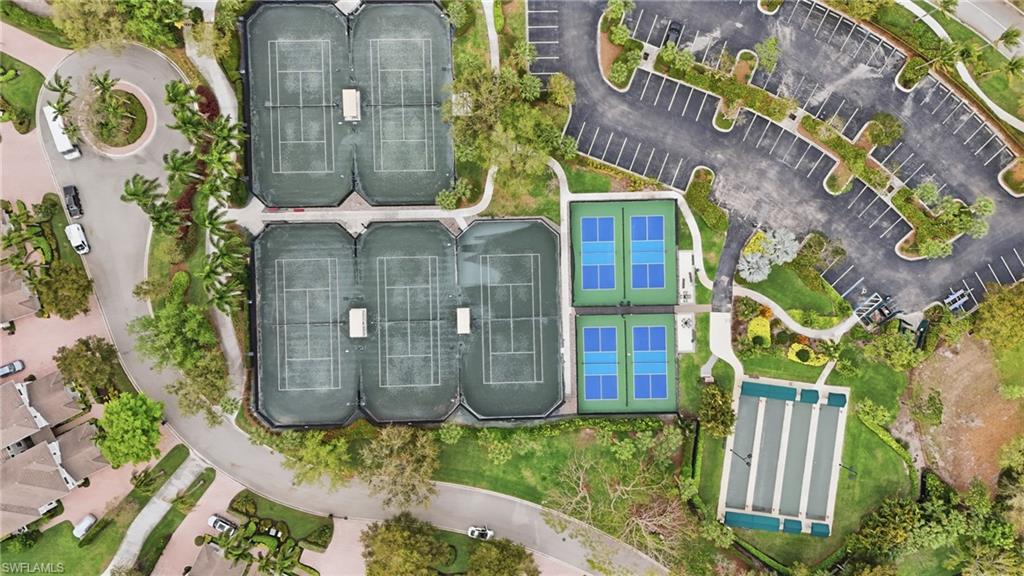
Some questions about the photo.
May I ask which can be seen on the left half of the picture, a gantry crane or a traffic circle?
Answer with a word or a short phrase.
traffic circle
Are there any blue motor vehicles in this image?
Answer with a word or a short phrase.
No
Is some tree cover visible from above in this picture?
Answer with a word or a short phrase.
Yes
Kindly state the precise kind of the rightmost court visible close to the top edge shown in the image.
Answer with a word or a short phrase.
tennis court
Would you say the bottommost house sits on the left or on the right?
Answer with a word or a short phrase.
left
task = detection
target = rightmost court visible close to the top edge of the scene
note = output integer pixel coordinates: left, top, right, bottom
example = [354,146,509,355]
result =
[349,2,455,202]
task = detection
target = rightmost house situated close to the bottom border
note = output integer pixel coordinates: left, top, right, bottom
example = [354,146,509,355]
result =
[191,542,252,576]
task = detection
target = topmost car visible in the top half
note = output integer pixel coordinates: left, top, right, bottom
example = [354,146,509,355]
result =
[663,20,679,47]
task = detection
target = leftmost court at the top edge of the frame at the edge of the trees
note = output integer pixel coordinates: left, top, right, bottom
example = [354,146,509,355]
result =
[249,4,353,203]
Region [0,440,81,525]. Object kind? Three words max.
house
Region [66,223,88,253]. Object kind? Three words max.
vehicle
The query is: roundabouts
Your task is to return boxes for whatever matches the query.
[34,37,193,193]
